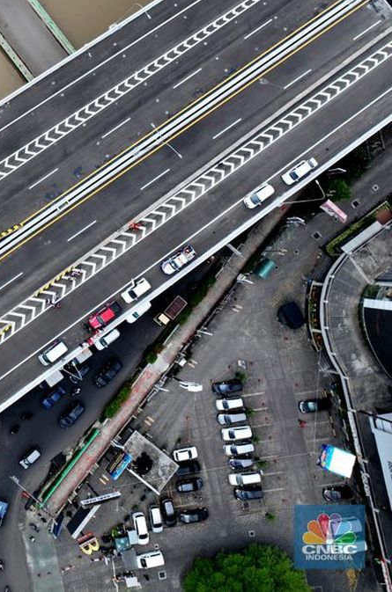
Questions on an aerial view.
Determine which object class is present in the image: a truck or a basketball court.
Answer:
truck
